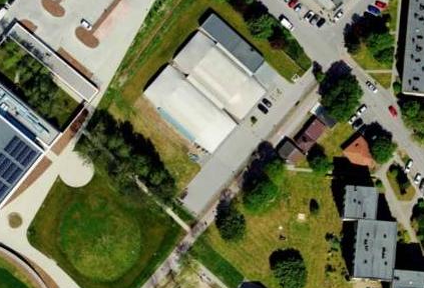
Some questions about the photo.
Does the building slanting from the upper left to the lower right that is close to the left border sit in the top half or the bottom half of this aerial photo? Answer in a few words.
top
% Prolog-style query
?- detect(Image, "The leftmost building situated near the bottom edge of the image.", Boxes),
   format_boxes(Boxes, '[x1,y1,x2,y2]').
[352,220,399,283]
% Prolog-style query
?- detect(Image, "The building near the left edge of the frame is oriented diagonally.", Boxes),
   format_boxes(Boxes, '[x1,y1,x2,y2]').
[0,22,100,104]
